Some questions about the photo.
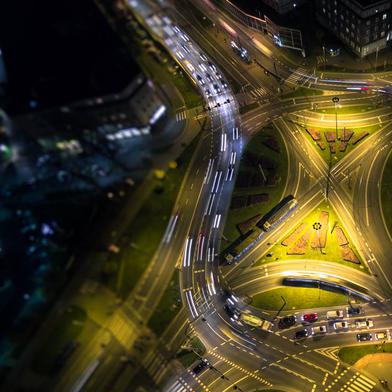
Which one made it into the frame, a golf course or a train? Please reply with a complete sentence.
The one in the frame is a train.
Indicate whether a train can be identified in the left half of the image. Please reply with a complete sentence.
No, in the left half of the image there is no train.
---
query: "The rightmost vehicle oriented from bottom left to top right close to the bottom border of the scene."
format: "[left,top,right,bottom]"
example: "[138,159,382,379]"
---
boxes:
[192,359,208,375]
